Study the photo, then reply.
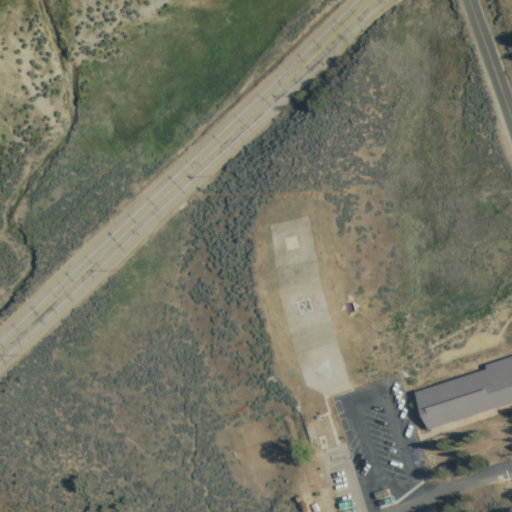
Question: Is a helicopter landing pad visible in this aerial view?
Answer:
Yes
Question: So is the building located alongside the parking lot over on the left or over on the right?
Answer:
right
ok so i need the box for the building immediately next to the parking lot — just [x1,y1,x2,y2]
[416,356,512,430]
